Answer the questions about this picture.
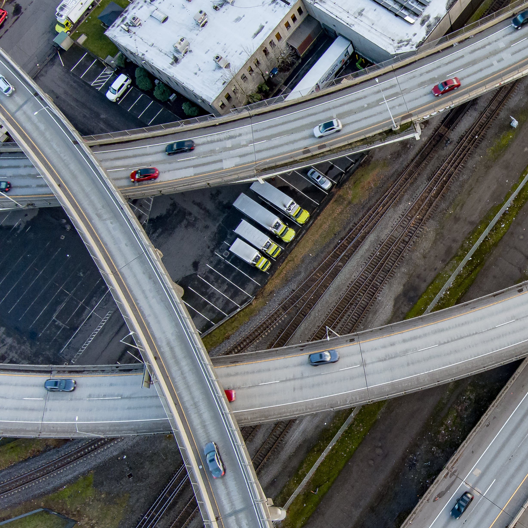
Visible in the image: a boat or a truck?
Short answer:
truck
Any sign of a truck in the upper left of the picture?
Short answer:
Yes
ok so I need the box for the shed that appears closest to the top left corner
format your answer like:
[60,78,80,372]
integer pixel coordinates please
[54,31,81,57]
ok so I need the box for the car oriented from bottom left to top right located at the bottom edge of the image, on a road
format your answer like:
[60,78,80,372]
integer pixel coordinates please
[449,488,476,522]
